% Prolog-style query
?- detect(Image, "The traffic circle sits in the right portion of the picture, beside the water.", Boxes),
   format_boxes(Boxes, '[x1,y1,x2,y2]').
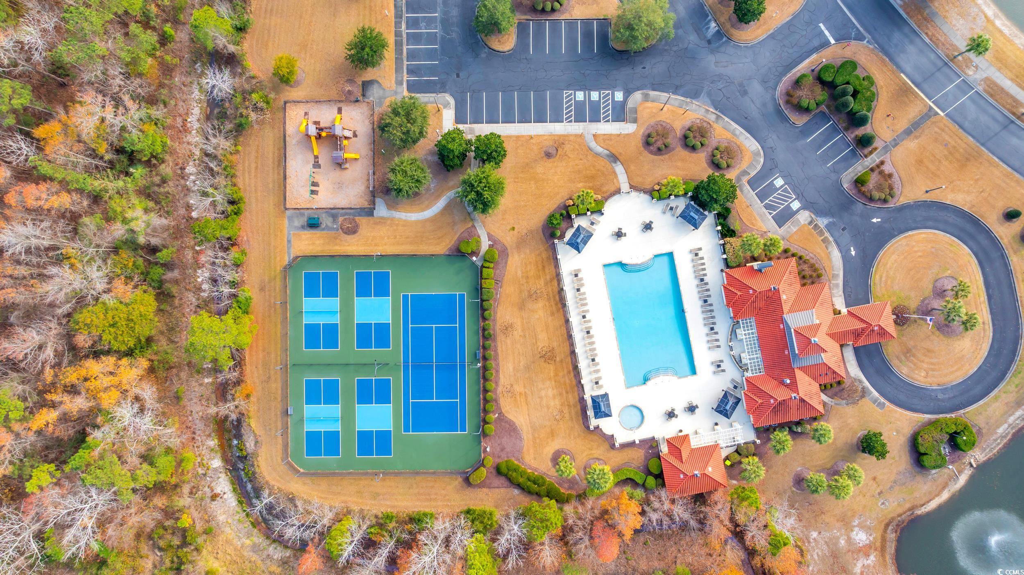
[841,199,1022,416]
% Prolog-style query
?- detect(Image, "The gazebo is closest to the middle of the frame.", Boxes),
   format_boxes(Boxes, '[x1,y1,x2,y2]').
[565,224,593,254]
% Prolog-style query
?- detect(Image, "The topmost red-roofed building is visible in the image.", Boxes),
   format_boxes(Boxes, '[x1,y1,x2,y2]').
[718,257,897,428]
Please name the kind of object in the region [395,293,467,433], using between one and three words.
tennis court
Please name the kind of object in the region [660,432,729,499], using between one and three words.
building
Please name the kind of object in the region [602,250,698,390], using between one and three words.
swimming pool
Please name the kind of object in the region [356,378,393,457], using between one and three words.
sports court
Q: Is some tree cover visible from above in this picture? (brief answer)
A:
Yes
